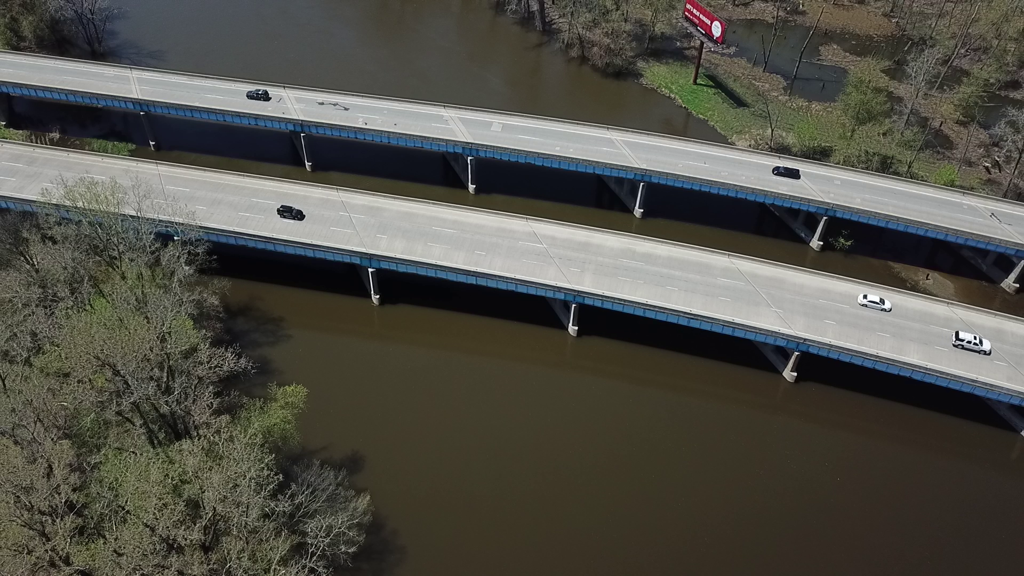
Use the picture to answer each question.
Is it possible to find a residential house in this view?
No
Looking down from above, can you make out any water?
Yes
